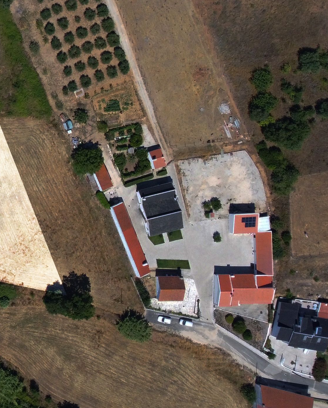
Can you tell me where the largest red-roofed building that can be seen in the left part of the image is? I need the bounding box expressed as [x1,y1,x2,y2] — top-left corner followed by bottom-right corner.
[109,202,151,278]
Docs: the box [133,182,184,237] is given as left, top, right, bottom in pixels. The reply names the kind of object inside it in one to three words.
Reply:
house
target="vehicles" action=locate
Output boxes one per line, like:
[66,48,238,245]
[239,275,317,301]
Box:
[157,315,171,323]
[178,318,193,327]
